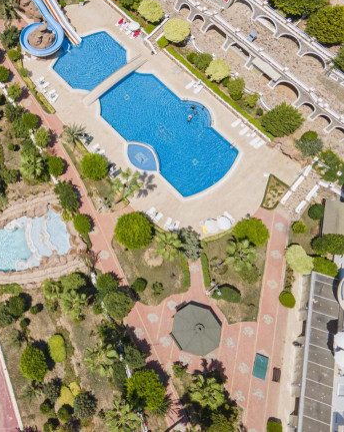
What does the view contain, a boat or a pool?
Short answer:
pool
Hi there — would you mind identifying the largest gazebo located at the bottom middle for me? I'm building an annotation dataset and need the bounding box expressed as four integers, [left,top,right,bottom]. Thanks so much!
[168,305,222,354]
